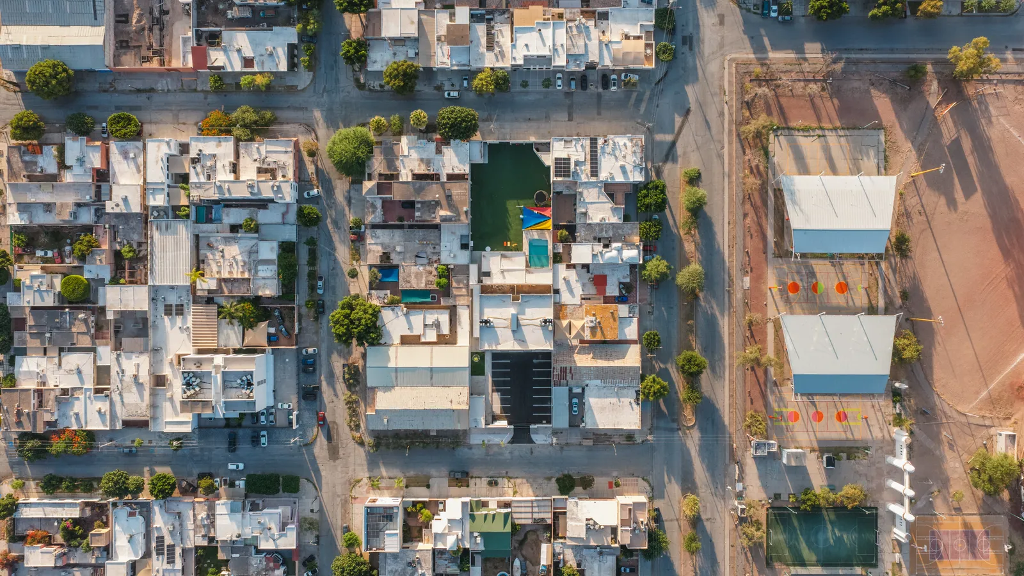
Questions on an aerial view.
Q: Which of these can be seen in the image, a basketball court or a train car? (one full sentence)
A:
This aerial view contains a basketball court.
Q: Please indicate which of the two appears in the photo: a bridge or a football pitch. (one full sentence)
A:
Of the two, only a football pitch appears.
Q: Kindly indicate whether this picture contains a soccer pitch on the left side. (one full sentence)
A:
No, no soccer pitch appears on the left side.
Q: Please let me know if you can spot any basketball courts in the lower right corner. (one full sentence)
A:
Yes, you'll find a basketball court in the lower right corner.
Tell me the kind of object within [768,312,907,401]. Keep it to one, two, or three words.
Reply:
building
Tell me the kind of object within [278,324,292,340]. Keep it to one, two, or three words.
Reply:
car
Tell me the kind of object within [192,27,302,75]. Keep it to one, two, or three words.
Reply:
house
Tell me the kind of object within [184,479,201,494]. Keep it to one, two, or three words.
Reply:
vehicle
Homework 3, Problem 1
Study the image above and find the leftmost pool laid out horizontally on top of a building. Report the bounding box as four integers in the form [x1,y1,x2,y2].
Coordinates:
[401,290,431,302]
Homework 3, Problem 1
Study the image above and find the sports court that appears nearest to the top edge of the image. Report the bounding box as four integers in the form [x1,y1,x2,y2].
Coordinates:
[771,127,886,177]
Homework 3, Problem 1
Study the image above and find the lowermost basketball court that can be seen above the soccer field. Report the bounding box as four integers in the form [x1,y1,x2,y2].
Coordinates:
[773,396,887,441]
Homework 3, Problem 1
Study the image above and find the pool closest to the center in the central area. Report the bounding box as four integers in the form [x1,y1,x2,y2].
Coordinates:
[529,239,549,269]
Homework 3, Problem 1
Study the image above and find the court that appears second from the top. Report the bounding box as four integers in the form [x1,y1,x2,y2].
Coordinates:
[773,260,887,314]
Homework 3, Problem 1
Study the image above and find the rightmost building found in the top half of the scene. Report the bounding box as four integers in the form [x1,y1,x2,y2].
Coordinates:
[770,172,906,260]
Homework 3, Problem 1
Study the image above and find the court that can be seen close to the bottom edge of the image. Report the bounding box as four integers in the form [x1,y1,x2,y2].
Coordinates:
[910,515,1006,576]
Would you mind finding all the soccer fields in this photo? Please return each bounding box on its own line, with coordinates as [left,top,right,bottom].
[767,507,878,568]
